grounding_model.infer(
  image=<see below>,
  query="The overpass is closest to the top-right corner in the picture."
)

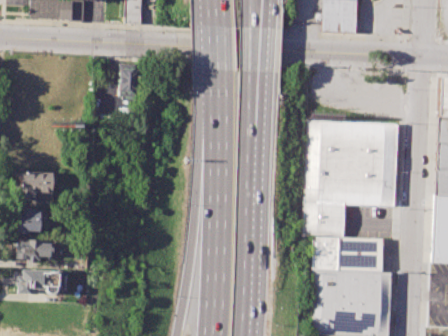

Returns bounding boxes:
[241,26,282,72]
